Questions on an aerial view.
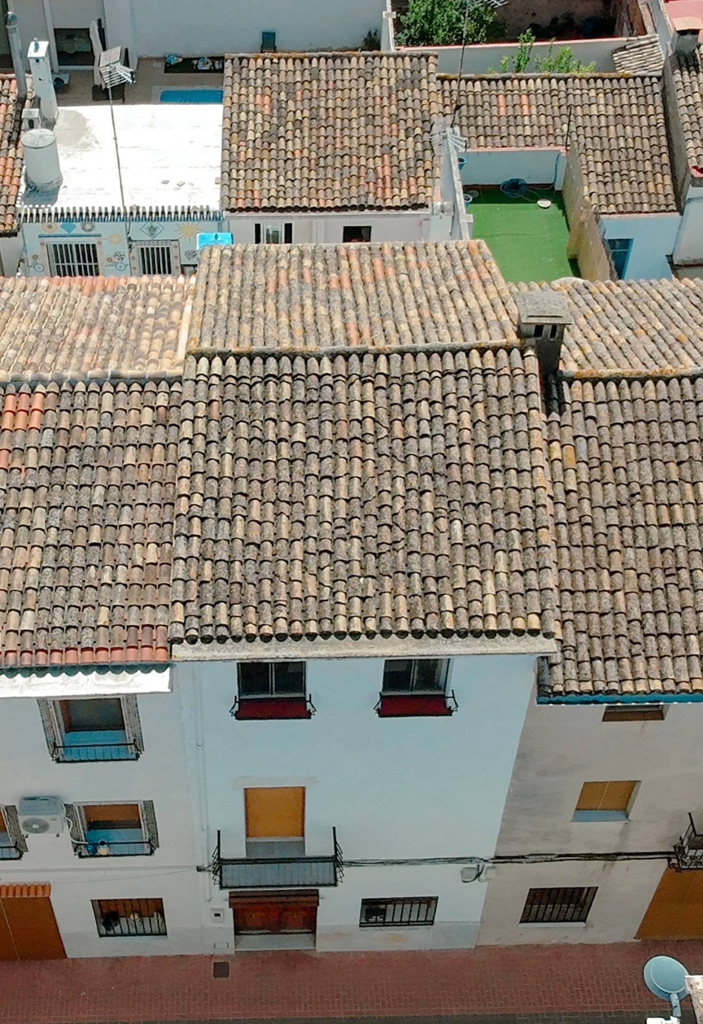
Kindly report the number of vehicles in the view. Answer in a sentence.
The count of vehicles is 0.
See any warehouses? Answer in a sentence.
No, I find no warehouse anywhere in the image.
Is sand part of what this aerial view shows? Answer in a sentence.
No, the picture contains no sand.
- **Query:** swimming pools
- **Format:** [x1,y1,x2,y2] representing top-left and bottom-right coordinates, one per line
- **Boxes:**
[151,84,220,103]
